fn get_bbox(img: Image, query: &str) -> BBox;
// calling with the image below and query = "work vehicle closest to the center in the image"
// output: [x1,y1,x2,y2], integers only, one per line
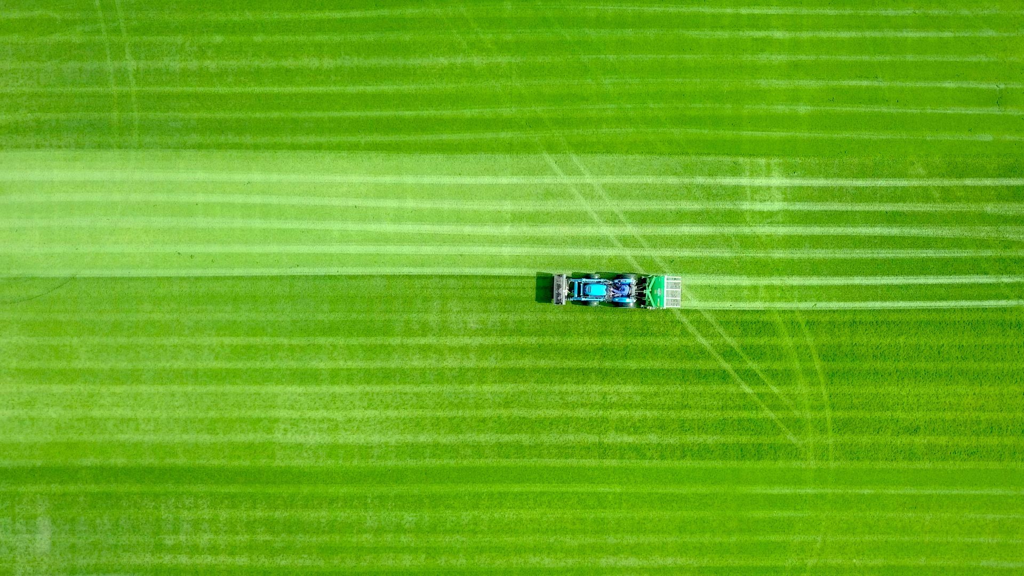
[554,273,647,308]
